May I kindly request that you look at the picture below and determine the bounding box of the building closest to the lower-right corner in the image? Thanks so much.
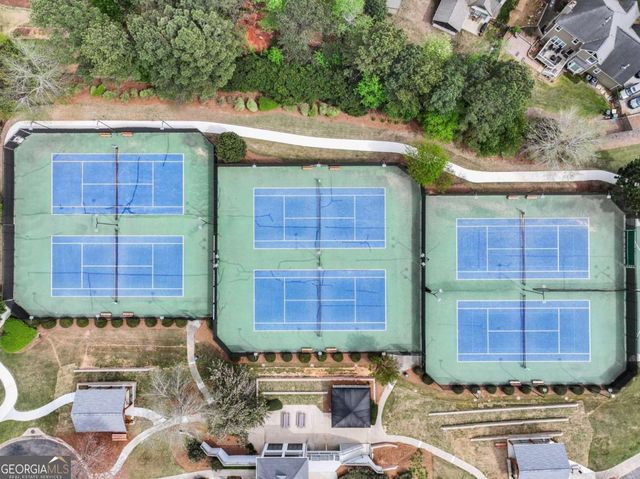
[503,433,569,479]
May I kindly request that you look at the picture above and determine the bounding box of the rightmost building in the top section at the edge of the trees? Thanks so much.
[531,0,640,93]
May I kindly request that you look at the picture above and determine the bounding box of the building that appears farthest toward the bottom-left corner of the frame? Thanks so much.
[71,381,137,431]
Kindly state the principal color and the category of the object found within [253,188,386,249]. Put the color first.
blue tennis court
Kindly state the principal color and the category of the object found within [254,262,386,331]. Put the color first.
blue tennis court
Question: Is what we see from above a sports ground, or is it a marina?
sports ground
